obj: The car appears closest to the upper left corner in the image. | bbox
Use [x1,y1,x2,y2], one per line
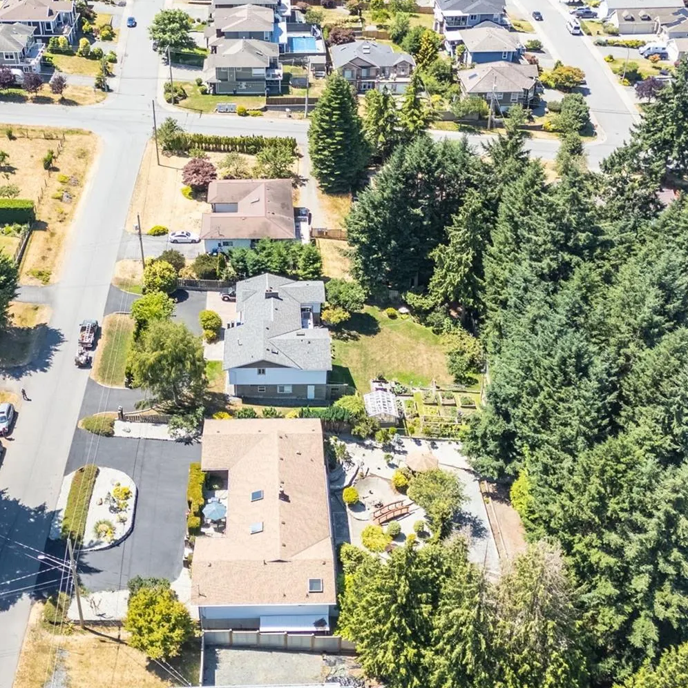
[125,10,138,25]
